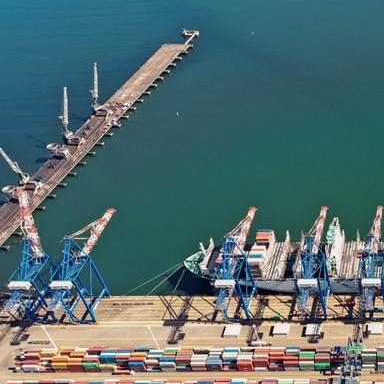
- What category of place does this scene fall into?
port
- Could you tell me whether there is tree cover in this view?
No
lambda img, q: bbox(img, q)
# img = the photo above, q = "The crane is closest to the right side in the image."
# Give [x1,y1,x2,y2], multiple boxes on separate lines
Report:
[356,203,384,322]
